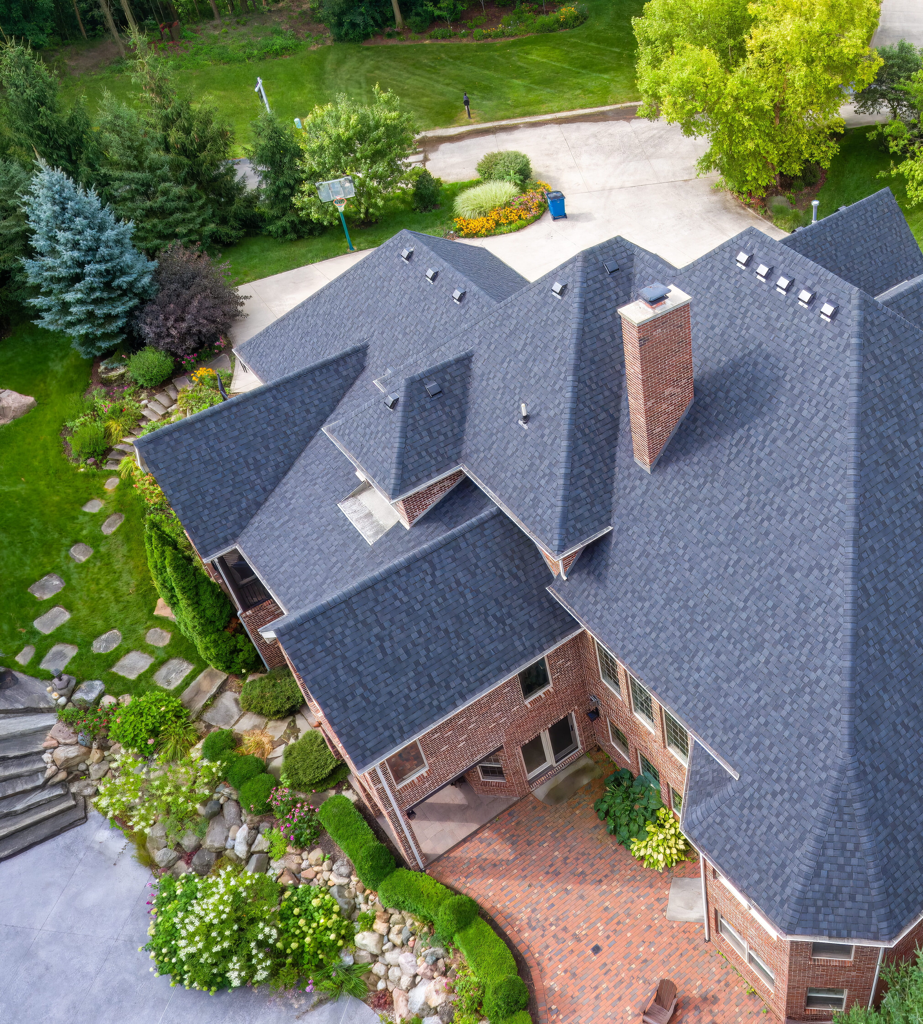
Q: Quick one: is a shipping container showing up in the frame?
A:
No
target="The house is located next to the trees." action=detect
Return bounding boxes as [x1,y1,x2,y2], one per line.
[133,174,923,1024]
